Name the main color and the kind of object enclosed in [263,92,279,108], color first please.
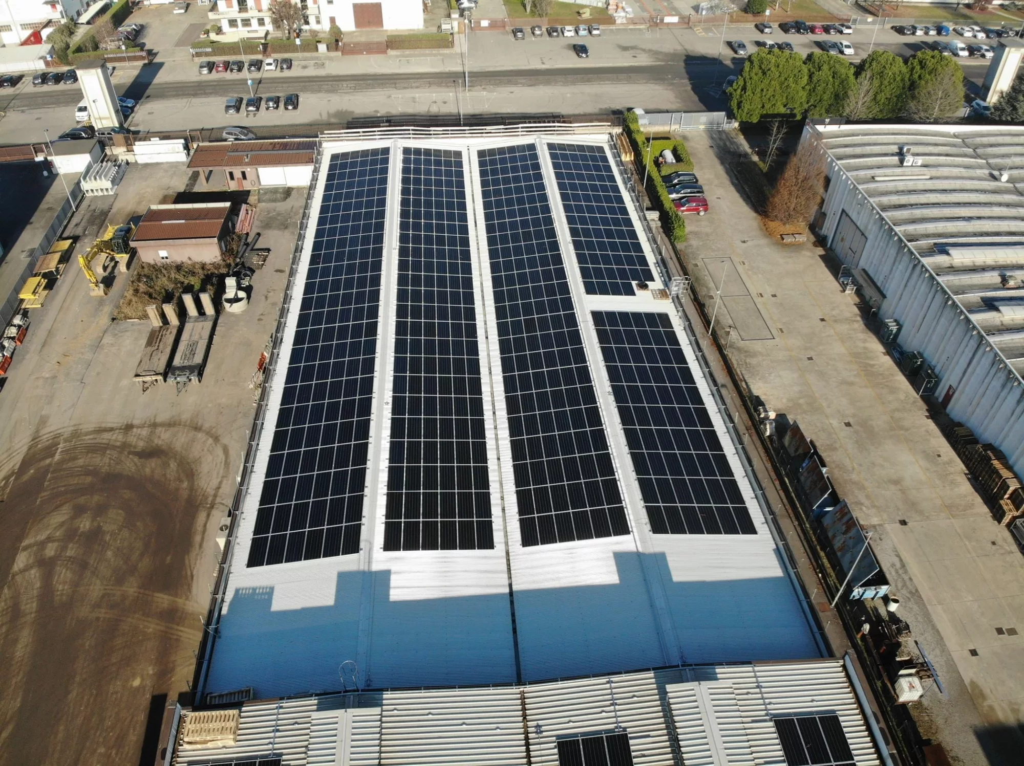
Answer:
gray car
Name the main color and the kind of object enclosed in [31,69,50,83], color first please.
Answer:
gray car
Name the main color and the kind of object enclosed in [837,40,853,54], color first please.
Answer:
white car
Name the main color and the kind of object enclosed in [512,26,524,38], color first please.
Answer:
gray vehicle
